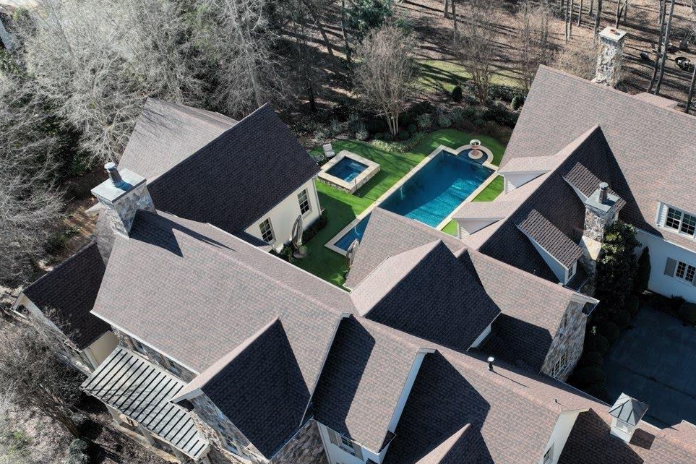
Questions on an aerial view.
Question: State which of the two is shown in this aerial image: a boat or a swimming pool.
swimming pool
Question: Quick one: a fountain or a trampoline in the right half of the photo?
fountain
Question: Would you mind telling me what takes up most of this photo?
buildings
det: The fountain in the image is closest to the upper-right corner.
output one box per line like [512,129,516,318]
[455,139,497,166]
